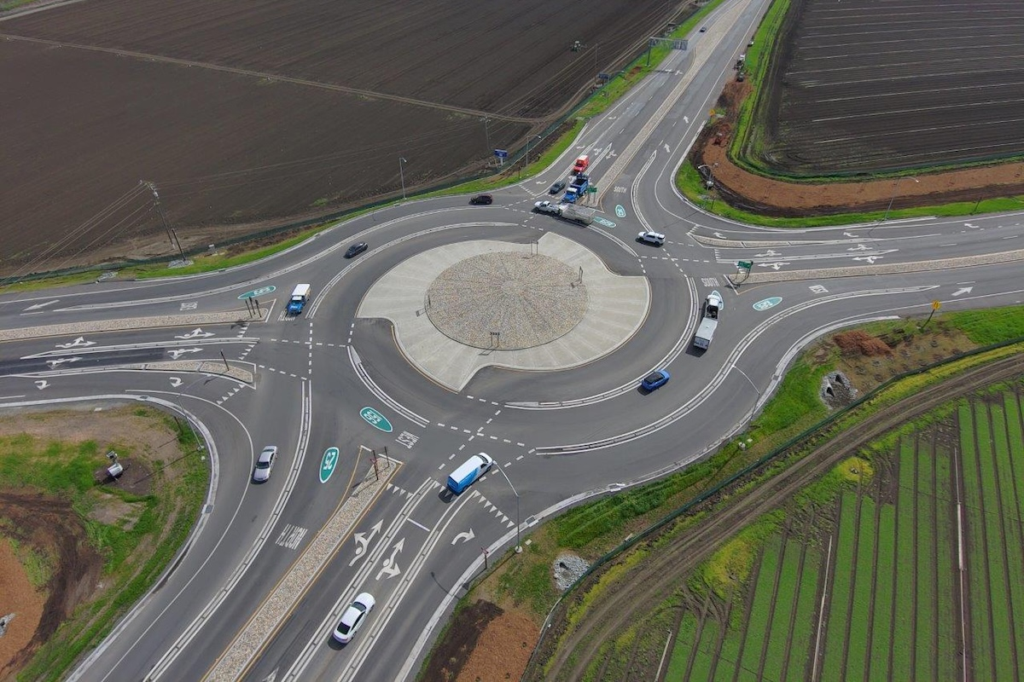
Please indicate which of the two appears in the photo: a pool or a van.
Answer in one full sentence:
The image shows a van.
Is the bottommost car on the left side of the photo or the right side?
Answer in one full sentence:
The bottommost car appears in the left half of the scene.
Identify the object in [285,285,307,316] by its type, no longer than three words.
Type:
truck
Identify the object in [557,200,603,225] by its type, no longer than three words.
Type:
trailer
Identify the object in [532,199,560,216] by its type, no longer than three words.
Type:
vehicle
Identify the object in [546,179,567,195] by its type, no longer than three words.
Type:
car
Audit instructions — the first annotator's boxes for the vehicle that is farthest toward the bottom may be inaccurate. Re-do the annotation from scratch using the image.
[331,596,373,644]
